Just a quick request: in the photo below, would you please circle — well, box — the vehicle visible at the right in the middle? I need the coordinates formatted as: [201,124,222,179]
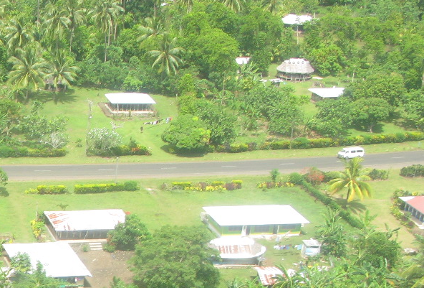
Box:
[339,147,366,159]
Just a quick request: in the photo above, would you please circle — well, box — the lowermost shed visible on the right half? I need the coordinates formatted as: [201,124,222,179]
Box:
[245,263,288,288]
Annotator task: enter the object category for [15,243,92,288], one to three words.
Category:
house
